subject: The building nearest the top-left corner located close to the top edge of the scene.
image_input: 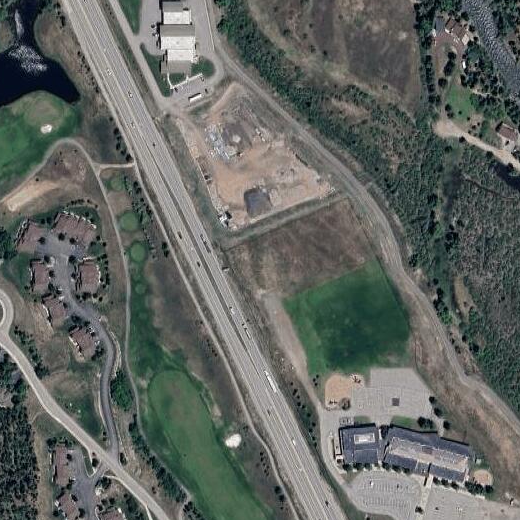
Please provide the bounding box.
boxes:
[160,1,195,72]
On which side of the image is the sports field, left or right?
right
